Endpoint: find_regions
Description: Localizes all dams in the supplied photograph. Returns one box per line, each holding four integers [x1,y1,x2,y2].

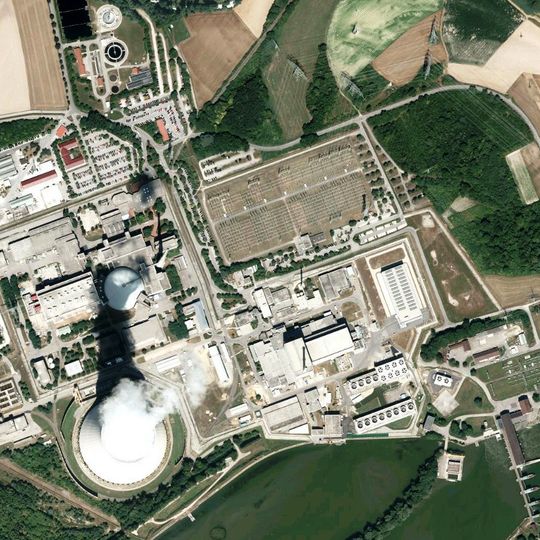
[513,464,540,531]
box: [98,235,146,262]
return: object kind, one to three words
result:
building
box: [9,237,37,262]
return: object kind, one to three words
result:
building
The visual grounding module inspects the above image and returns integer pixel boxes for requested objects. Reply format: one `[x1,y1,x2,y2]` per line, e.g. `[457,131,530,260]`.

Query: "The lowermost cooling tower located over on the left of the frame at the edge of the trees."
[77,394,168,486]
